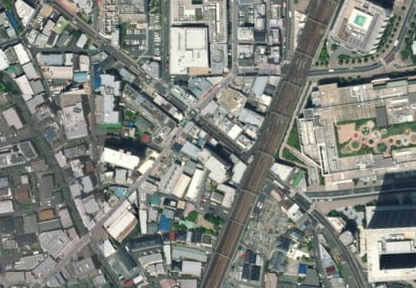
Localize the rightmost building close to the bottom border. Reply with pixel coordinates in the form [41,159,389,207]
[362,226,416,286]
